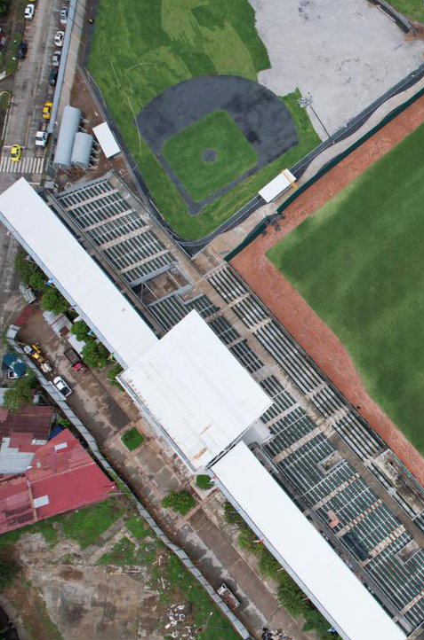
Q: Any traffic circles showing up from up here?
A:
No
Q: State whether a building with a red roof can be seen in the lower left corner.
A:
Yes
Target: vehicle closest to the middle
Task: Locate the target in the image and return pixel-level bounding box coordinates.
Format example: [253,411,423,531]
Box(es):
[261,220,276,234]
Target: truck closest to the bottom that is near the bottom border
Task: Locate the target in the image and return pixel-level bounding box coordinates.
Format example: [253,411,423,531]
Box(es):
[217,584,241,611]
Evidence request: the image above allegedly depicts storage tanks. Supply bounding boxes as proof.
[72,130,100,169]
[53,103,90,169]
